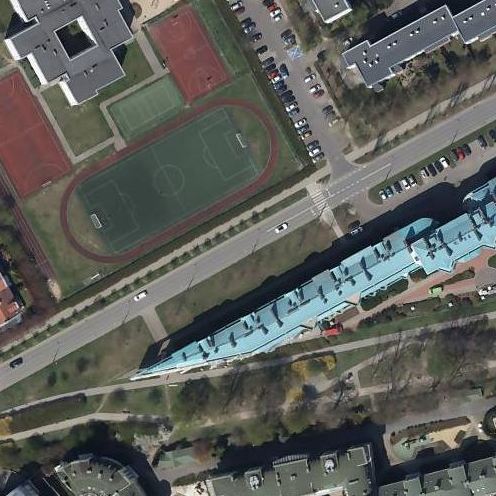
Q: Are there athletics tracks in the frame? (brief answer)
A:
Yes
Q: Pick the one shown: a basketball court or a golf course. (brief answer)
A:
basketball court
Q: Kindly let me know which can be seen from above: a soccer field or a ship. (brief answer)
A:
soccer field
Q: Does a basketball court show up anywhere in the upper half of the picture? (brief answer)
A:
Yes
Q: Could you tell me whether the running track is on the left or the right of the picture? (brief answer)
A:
left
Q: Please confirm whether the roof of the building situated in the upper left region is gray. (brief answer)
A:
Yes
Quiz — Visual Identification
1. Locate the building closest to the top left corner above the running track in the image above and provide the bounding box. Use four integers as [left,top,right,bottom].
[9,0,133,106]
